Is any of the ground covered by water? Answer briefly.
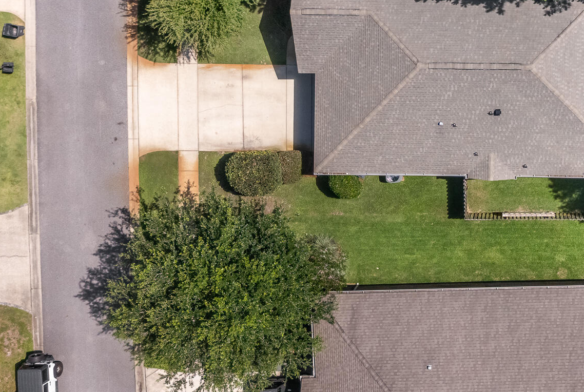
No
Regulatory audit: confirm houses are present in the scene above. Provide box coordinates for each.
[298,280,584,392]
[291,0,584,181]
